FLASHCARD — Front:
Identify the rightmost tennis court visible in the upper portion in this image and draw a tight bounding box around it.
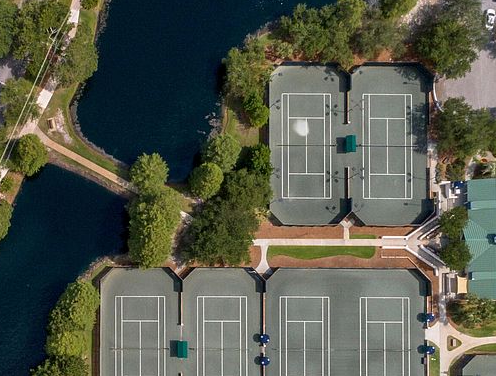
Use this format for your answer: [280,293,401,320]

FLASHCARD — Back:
[350,67,429,223]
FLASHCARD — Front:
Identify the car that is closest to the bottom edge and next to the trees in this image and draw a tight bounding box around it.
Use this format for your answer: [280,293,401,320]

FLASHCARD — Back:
[484,9,496,31]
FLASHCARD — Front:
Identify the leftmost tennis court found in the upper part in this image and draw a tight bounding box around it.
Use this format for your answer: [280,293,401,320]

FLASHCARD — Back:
[275,66,350,222]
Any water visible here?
Yes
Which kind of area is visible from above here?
sports ground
